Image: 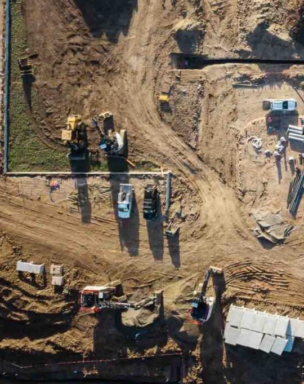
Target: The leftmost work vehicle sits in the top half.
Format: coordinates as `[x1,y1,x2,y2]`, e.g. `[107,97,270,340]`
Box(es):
[64,110,95,160]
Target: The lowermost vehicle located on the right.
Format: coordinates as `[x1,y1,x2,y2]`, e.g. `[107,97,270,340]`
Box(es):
[188,263,224,323]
